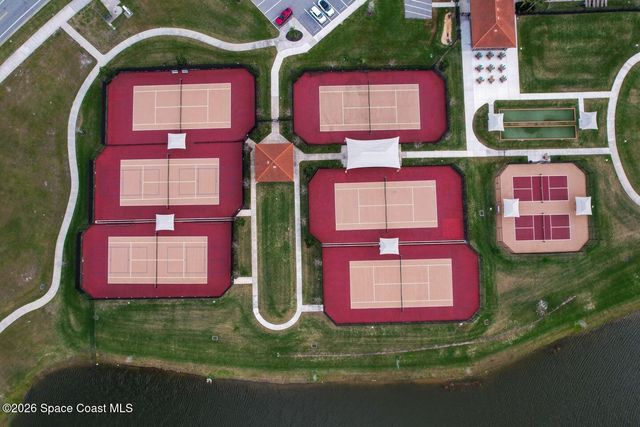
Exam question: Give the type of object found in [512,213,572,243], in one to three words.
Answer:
sports court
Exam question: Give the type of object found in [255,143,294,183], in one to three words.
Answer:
building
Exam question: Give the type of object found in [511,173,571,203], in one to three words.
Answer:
sports court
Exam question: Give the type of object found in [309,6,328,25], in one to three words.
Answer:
car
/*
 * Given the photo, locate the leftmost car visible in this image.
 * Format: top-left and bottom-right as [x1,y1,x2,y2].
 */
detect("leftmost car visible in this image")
[275,7,294,26]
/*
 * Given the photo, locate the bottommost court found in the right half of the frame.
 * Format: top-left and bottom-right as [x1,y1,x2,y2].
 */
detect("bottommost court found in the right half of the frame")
[322,242,480,323]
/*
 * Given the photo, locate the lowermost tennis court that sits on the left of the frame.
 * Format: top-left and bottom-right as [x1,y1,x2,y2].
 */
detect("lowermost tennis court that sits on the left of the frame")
[82,221,233,298]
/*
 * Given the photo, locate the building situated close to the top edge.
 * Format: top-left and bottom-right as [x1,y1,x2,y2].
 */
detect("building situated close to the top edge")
[468,0,516,53]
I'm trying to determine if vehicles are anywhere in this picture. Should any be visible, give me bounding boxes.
[275,7,294,26]
[309,6,328,25]
[318,0,336,18]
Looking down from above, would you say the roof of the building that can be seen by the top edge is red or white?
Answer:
red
